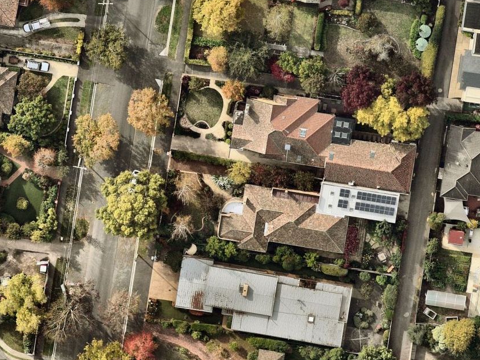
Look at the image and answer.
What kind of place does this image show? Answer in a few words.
residential area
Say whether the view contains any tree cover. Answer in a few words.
Yes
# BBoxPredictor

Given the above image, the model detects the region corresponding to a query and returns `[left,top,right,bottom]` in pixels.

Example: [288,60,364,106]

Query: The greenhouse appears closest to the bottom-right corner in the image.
[425,289,466,308]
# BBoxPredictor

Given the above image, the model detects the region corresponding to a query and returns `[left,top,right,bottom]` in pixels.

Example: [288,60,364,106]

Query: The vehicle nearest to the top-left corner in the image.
[22,17,52,34]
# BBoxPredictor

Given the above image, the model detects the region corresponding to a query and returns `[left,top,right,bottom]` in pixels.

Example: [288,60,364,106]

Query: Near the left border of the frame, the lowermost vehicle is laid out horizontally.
[24,59,51,72]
